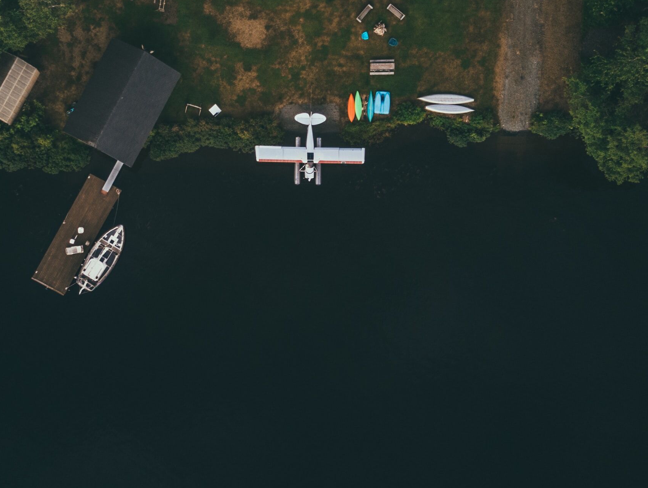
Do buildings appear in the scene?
Yes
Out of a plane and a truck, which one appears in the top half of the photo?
plane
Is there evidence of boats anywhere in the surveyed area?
Yes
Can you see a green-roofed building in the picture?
No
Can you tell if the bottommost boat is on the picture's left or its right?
left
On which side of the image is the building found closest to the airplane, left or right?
left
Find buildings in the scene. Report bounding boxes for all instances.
[0,52,43,124]
[63,38,181,167]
